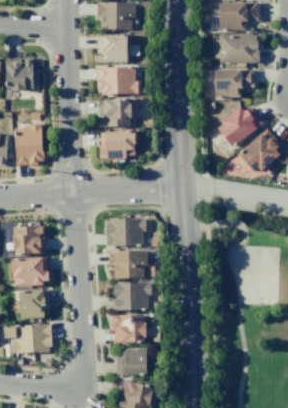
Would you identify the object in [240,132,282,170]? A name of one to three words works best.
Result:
house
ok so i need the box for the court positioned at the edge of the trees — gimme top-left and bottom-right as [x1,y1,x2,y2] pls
[230,244,282,304]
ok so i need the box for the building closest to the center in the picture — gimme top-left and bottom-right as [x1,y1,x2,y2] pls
[106,218,148,246]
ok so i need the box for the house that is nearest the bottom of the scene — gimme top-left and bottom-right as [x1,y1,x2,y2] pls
[122,382,154,408]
